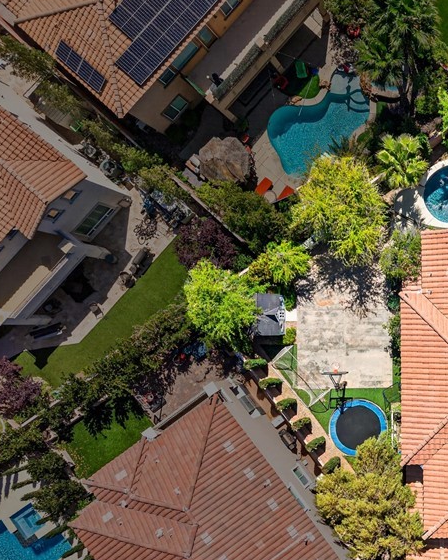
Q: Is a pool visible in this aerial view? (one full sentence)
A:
Yes, a pool is visible in the scene.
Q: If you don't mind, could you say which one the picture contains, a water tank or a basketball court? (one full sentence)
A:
Of the two, only a basketball court appears.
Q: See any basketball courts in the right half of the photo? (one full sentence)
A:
Yes, looking in the right half of the photo, one can make out a basketball court.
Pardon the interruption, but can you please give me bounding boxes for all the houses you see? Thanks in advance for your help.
[66,377,356,560]
[398,230,448,560]
[2,0,340,137]
[0,76,131,335]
